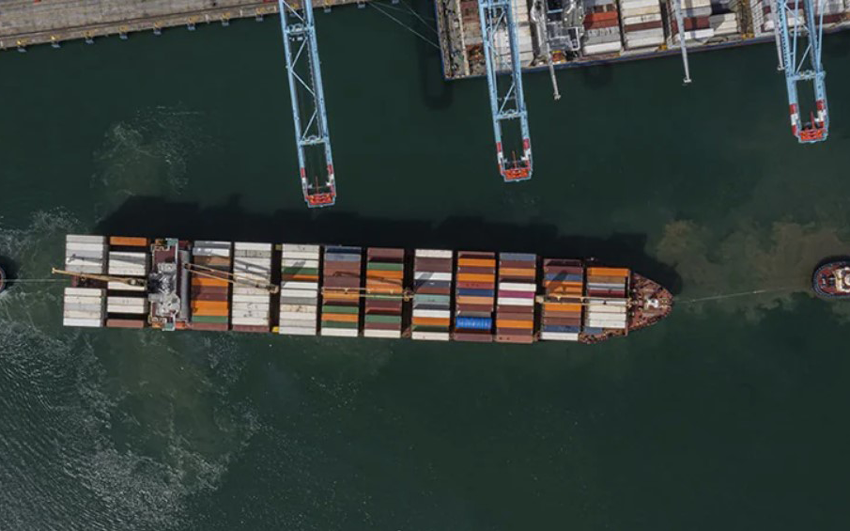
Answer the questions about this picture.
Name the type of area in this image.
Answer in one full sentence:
The area seen from above is a port.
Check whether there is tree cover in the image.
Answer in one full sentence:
No, the scene doesn't show any tree cover.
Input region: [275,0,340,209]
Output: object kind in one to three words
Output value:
container crane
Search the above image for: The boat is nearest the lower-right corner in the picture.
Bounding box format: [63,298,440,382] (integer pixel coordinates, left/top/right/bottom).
[812,260,850,300]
